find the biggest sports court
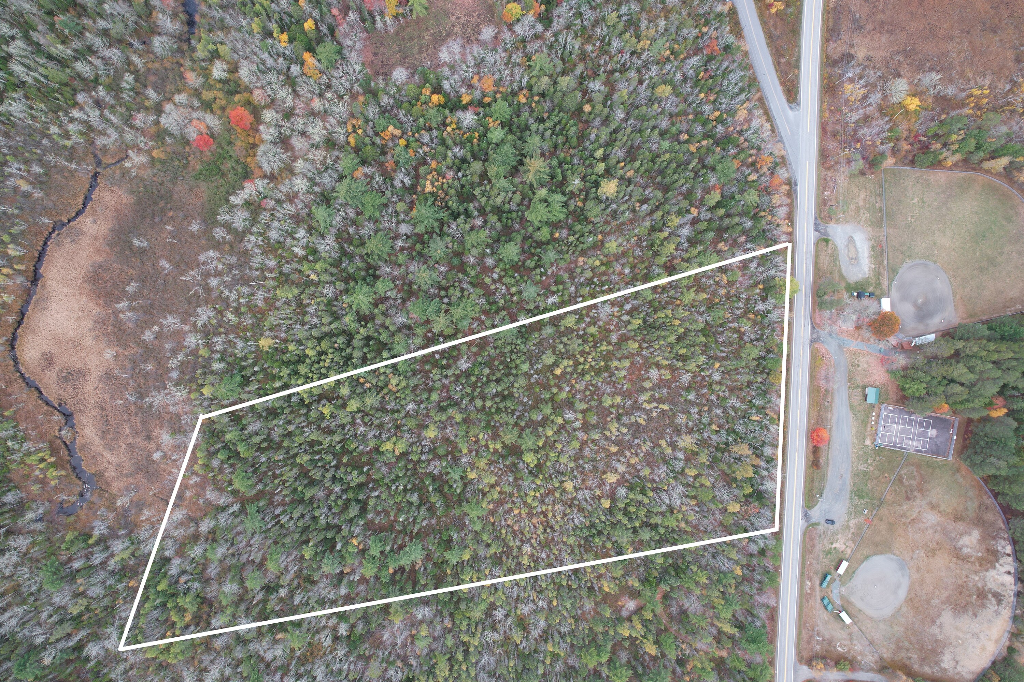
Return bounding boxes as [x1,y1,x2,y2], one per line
[877,405,952,459]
